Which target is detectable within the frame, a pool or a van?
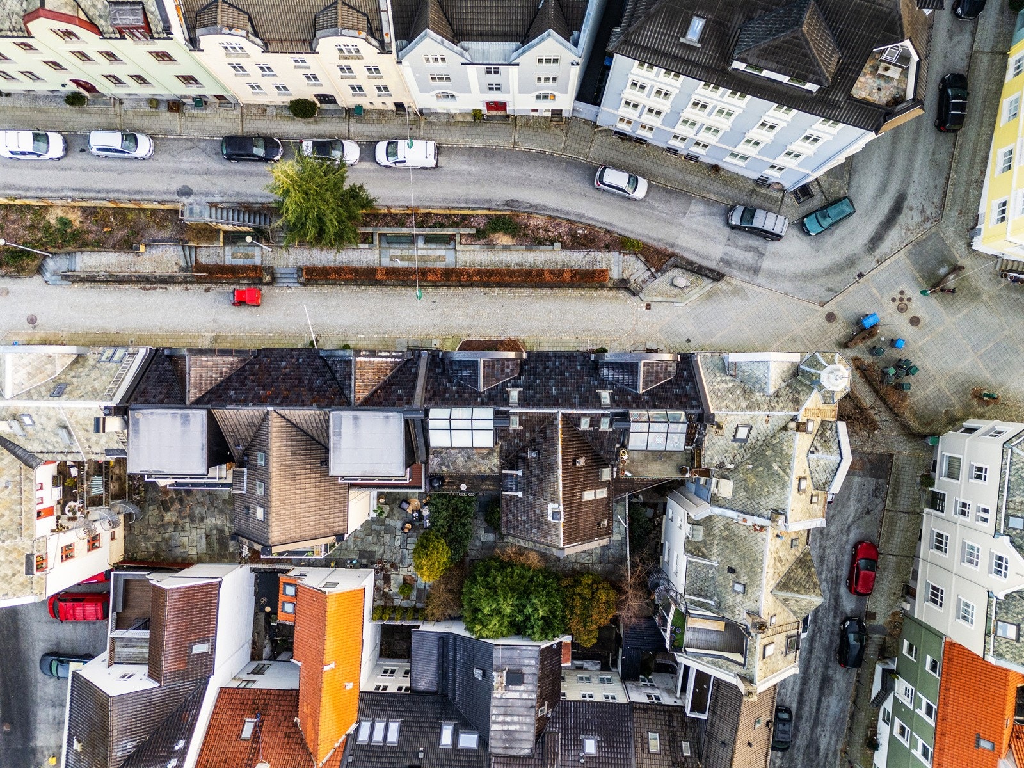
van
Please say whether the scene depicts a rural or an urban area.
urban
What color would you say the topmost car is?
black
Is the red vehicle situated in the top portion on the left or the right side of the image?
left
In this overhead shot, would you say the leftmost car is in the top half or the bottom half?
top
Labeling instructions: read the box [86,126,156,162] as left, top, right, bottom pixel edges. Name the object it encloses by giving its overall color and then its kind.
white car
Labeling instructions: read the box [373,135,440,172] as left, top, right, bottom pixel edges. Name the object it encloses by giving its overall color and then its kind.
white van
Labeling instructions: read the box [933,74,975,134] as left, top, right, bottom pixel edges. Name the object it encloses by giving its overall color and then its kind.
black car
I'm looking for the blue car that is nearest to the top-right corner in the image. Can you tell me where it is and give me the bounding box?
[800,193,861,237]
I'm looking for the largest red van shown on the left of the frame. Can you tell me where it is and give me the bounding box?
[52,591,109,626]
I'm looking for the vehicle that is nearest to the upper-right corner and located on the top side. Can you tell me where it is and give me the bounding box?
[950,0,989,33]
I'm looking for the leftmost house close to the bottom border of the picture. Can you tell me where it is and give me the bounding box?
[62,563,253,768]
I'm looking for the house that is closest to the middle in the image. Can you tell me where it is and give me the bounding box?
[400,346,719,552]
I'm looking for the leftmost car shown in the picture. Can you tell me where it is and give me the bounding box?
[0,126,70,163]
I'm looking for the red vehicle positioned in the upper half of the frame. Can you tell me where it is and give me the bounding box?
[228,286,262,308]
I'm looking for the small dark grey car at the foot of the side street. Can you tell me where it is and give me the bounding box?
[773,701,798,755]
